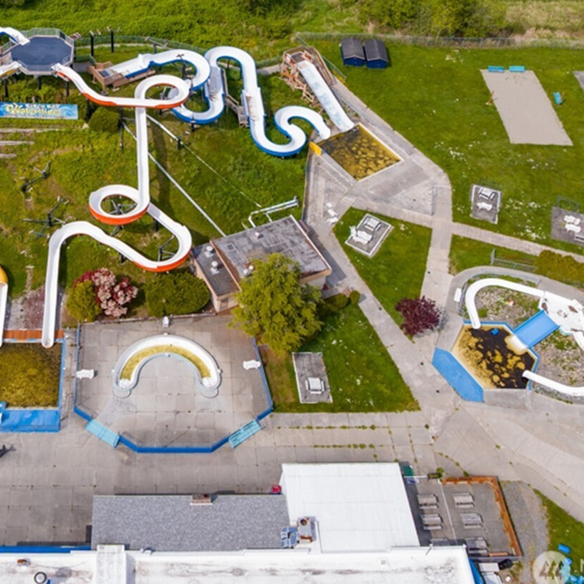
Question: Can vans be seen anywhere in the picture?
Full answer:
No, I can't see a single van in this photo.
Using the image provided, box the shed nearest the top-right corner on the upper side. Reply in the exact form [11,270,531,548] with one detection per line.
[365,37,389,70]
